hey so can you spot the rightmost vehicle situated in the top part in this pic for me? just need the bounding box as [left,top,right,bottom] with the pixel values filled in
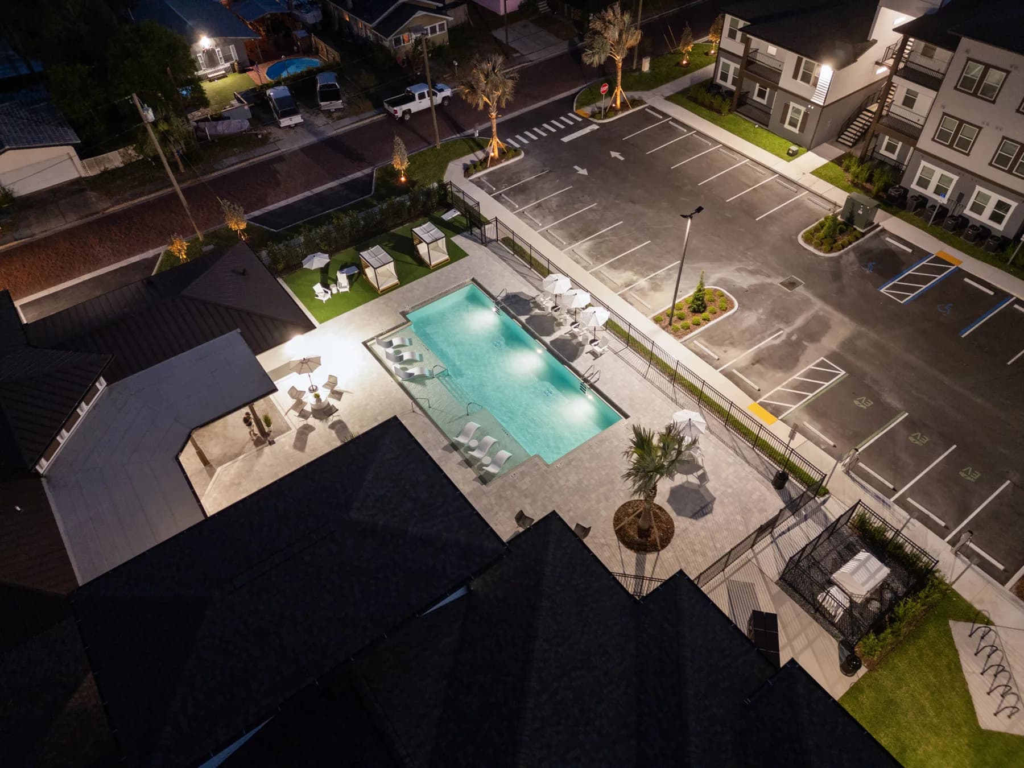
[383,86,456,125]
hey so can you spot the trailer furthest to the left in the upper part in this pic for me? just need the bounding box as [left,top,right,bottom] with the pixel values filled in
[209,91,251,114]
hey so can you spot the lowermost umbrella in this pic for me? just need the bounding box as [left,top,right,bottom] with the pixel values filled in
[674,412,712,449]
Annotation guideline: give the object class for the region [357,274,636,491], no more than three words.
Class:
swimming pool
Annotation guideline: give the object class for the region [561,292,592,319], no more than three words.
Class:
umbrella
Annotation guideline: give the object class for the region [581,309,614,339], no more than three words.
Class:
umbrella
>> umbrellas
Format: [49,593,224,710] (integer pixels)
[287,352,325,387]
[541,274,572,302]
[299,258,329,296]
[581,309,614,339]
[561,292,592,319]
[674,412,712,449]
